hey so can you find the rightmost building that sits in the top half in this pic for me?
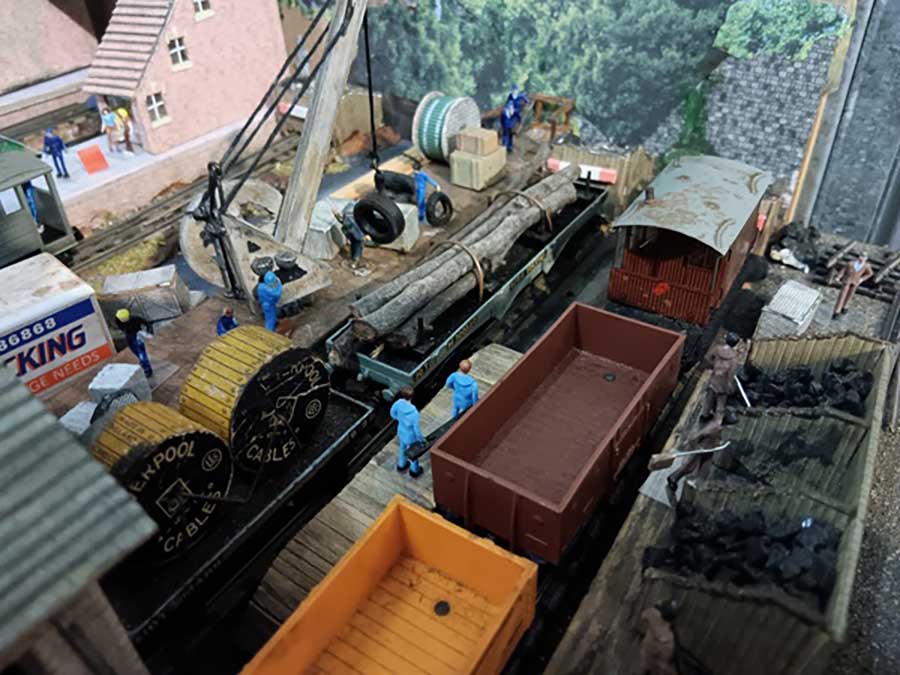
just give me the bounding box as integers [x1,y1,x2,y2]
[74,0,291,153]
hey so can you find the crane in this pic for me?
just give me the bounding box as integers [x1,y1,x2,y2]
[167,0,380,324]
